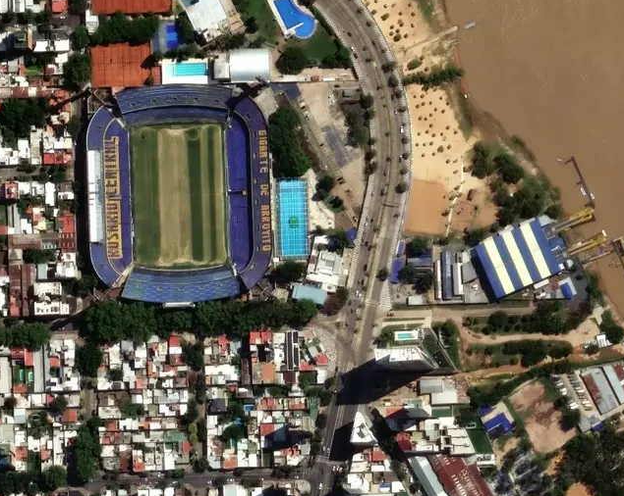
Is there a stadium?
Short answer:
Yes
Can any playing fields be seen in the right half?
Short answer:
Yes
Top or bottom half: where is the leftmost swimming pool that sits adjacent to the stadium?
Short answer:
top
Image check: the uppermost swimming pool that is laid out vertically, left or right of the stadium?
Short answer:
on the right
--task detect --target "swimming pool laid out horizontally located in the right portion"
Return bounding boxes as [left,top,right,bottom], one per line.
[395,330,419,343]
